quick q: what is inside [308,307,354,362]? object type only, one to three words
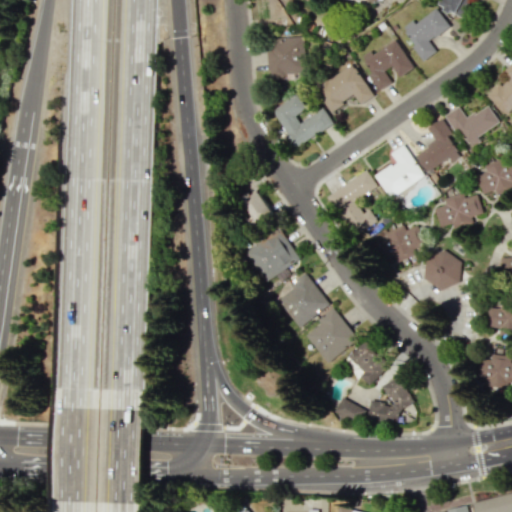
house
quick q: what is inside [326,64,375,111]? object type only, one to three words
house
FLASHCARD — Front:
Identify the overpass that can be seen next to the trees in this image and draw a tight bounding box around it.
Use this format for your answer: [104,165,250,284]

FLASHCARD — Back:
[47,402,143,506]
